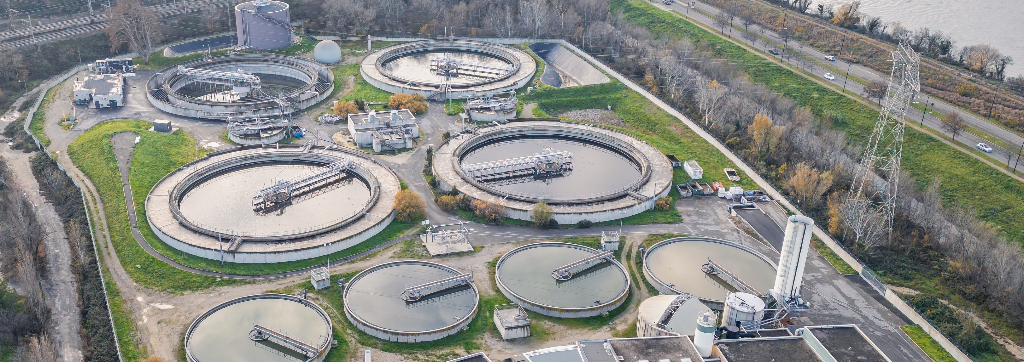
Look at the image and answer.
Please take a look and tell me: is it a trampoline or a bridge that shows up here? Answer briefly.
bridge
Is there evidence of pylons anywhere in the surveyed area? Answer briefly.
Yes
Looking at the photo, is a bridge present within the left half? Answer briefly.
Yes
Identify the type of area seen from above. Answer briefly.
industrial area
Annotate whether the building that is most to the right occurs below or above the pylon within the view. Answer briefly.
below it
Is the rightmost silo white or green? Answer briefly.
white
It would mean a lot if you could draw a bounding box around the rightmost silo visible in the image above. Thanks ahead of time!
[769,215,820,326]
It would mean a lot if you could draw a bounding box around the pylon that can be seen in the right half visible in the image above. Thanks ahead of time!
[846,34,922,247]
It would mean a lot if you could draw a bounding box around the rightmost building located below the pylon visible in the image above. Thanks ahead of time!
[803,325,892,362]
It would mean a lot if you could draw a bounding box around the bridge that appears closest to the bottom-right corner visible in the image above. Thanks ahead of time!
[697,258,759,296]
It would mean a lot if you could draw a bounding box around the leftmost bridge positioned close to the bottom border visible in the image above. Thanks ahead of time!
[247,319,318,356]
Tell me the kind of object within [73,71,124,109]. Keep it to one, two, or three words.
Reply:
building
